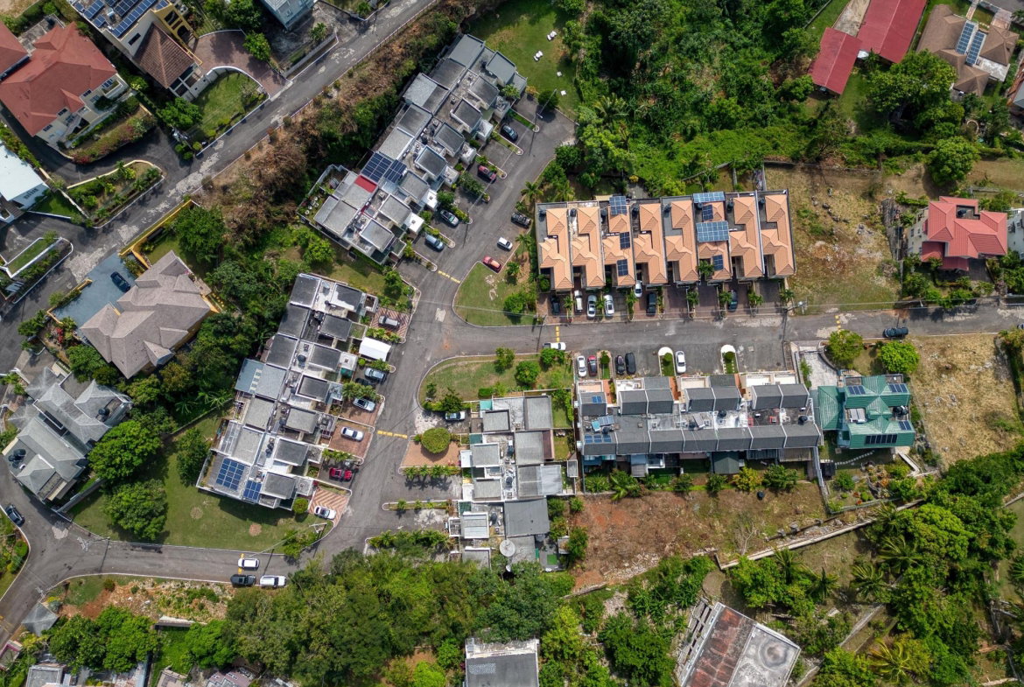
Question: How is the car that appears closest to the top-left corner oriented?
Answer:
at an angle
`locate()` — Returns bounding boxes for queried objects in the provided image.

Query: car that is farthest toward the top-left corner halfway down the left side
[109,270,134,294]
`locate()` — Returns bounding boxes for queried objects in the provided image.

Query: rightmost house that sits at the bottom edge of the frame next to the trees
[668,593,801,687]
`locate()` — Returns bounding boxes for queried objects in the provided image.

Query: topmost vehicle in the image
[500,123,519,142]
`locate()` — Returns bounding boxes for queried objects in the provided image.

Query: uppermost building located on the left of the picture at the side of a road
[262,0,322,36]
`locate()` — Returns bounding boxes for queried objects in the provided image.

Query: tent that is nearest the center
[359,338,392,362]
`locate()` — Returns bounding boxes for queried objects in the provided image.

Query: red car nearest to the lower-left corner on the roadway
[328,465,354,482]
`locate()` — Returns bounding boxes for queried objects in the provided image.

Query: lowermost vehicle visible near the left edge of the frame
[3,503,28,528]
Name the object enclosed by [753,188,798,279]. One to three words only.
house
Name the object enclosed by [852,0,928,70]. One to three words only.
shed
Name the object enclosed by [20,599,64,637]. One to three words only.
gazebo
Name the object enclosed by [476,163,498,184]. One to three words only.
car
